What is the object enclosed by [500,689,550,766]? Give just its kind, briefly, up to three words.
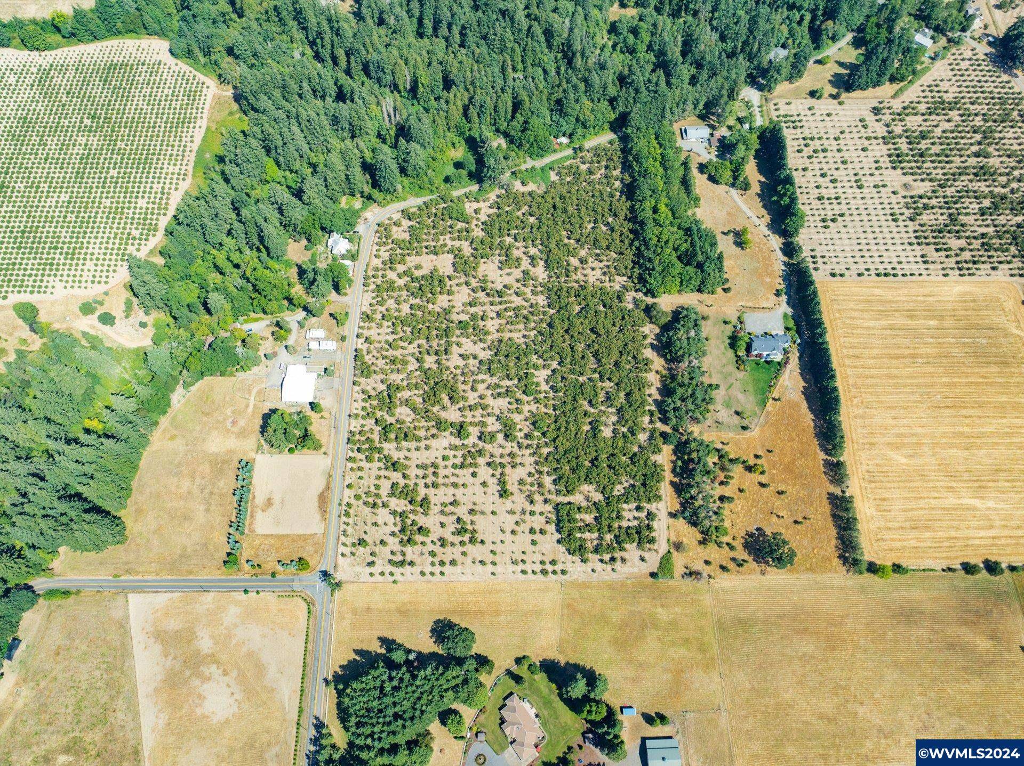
house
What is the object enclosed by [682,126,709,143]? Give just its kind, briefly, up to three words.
house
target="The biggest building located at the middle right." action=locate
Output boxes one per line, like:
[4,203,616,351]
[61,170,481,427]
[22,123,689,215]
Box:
[748,333,793,363]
